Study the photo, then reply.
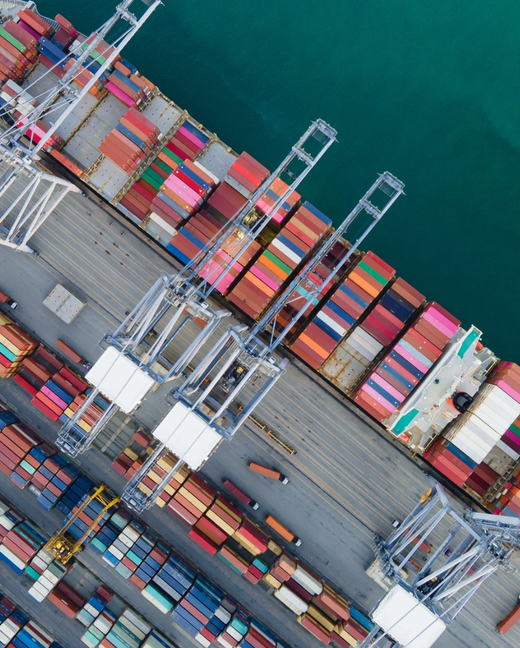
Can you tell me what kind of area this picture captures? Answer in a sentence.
What you see here is a port.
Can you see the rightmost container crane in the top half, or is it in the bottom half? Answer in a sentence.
The rightmost container crane sits in the bottom half of the picture.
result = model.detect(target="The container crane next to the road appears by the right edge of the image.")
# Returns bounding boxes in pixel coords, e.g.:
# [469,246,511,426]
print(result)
[348,464,520,648]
